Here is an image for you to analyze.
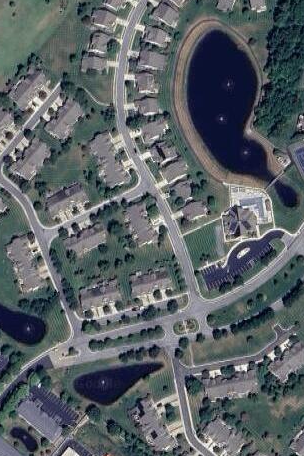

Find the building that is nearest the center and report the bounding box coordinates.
[120,204,157,252]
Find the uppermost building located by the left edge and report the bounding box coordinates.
[11,68,48,105]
